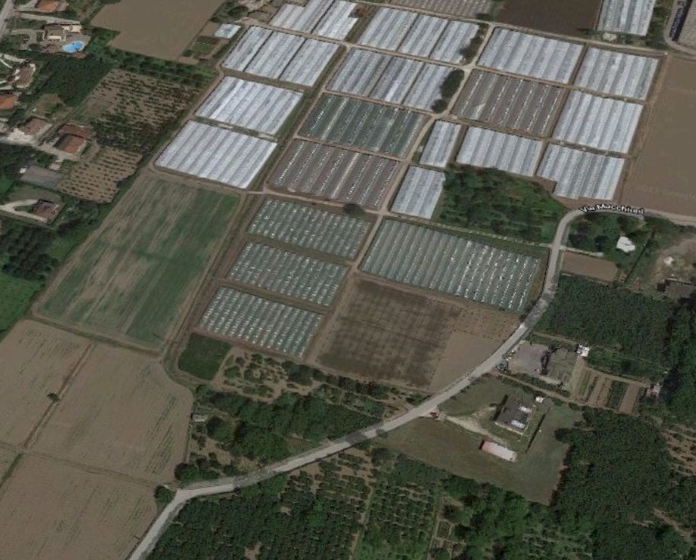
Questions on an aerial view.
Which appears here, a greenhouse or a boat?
greenhouse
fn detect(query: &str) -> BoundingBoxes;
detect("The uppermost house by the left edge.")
[34,0,65,14]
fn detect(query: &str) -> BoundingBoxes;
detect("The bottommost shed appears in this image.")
[481,442,516,462]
